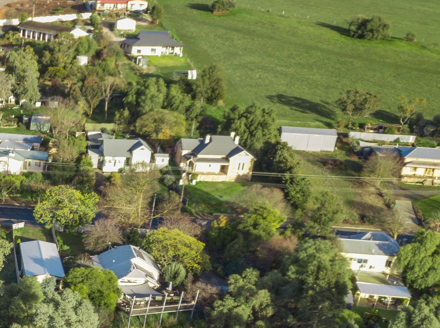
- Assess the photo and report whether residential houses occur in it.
Yes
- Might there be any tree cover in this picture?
Yes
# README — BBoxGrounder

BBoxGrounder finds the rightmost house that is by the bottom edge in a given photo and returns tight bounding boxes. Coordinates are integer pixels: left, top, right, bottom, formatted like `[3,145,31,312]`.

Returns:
[327,213,411,320]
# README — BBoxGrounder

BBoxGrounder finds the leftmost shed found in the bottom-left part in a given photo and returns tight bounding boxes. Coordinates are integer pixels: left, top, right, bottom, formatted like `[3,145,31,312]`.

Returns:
[20,232,65,304]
